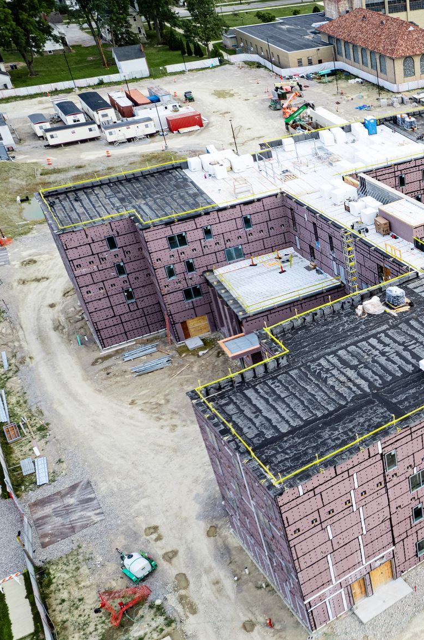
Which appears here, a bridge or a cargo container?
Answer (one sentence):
I can see a cargo container in this picture.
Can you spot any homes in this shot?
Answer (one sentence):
Yes, a home is visible in the scene.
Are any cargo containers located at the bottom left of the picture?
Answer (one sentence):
No, there's no cargo container to be seen at the bottom left of the picture.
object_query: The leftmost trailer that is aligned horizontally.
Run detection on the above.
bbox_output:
[42,119,99,146]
